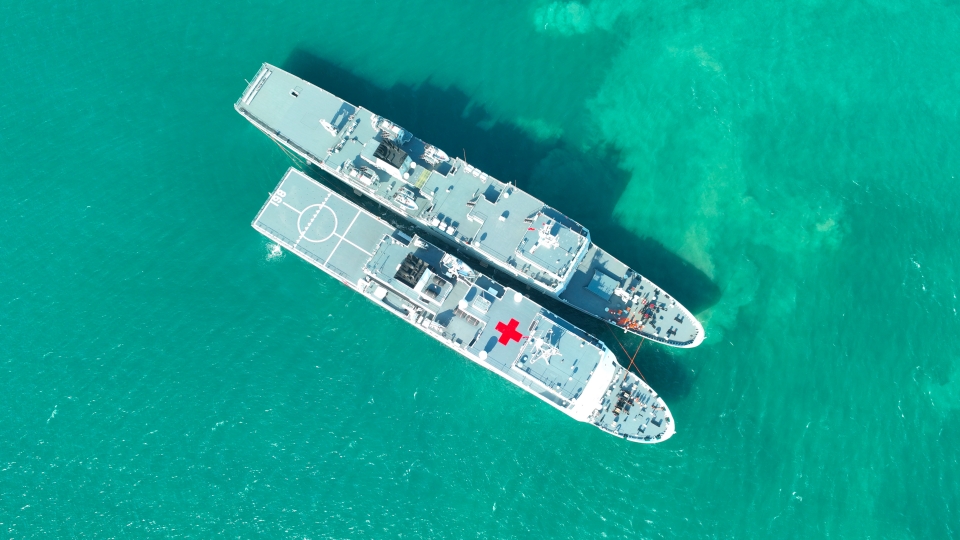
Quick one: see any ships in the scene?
Yes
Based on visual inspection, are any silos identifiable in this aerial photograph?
No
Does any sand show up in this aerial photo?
No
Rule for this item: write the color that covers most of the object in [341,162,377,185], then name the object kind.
white boat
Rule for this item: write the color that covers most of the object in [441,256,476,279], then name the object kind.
white boat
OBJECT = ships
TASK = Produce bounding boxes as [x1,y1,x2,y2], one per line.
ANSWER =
[232,64,708,349]
[248,167,682,442]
